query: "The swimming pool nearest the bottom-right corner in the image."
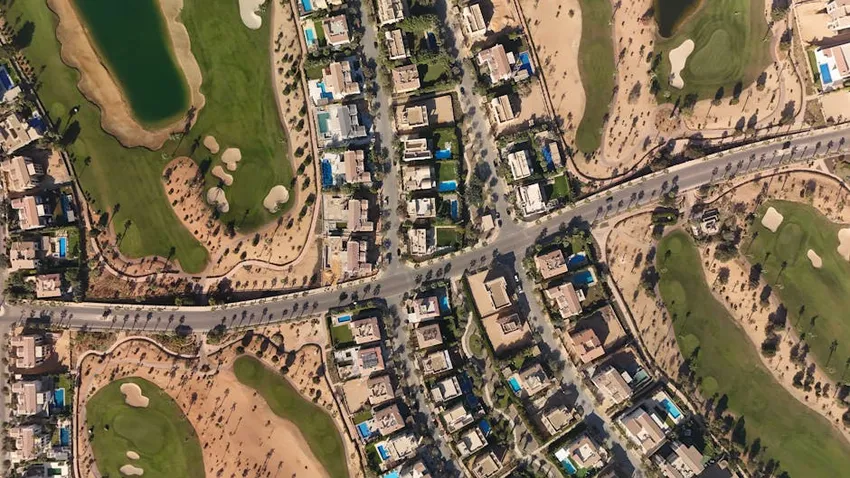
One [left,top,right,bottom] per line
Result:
[654,390,684,422]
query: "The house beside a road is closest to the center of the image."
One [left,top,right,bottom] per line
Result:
[408,228,431,257]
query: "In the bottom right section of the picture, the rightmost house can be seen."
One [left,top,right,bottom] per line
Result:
[659,442,705,478]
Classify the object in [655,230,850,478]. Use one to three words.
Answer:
golf course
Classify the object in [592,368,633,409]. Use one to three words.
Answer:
house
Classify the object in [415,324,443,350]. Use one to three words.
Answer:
house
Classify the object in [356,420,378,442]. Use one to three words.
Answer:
swimming pool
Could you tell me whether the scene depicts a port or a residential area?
residential area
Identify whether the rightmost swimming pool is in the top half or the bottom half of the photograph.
top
